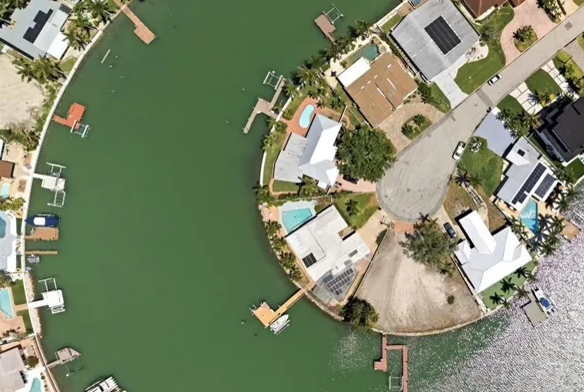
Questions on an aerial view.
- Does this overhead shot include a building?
Yes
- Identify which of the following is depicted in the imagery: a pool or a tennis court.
pool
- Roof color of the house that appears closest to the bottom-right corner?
white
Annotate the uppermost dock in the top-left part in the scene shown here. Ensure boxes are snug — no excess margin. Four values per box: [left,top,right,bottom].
[121,3,157,45]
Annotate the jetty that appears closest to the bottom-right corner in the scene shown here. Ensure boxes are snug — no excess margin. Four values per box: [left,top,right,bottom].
[521,286,548,328]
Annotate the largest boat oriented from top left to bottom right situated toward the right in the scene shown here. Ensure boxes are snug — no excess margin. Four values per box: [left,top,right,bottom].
[536,289,554,315]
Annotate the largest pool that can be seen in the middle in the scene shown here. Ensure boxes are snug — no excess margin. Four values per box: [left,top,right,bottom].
[282,207,313,235]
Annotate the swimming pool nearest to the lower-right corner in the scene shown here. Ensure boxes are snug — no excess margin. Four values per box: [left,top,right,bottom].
[518,197,540,236]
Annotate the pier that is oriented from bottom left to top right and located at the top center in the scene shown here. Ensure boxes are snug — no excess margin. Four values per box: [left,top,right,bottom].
[243,77,287,134]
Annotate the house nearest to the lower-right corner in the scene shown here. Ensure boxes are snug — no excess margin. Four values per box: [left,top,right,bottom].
[454,211,532,293]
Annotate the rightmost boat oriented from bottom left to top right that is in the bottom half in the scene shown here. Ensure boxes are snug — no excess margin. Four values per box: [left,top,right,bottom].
[268,315,289,330]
